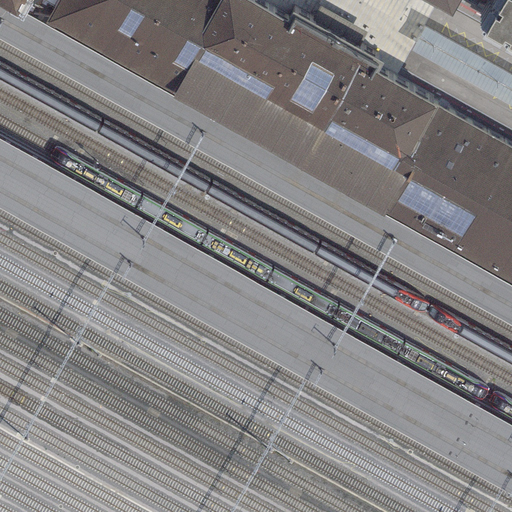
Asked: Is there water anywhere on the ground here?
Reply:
No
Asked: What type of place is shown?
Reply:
rail yard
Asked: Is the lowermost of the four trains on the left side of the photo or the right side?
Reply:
right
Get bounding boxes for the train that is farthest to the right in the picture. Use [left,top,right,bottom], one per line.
[490,390,512,418]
